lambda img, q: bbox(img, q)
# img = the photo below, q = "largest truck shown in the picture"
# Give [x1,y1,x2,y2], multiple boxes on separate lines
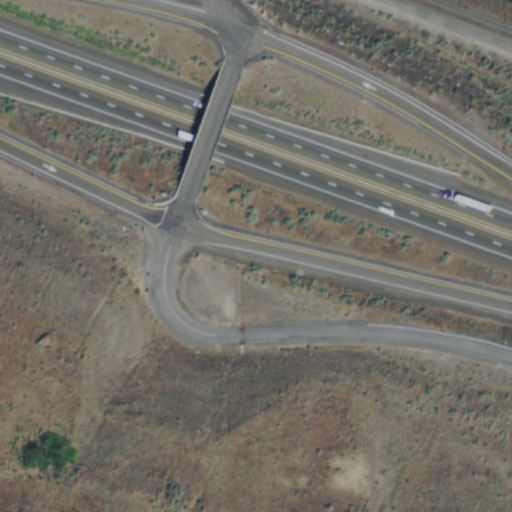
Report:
[440,190,492,212]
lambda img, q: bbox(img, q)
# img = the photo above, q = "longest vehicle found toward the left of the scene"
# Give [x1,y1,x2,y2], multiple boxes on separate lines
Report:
[178,130,197,142]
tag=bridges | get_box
[178,56,245,200]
